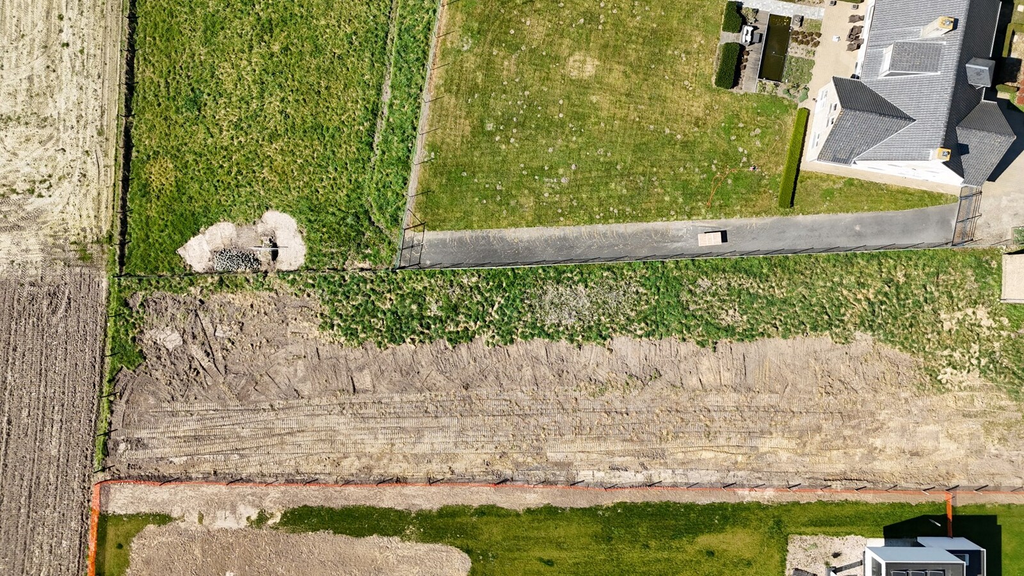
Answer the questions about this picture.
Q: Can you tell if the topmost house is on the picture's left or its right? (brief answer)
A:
right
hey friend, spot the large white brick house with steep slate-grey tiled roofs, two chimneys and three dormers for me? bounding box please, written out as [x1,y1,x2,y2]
[805,0,1015,186]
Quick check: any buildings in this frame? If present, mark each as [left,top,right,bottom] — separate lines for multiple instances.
[805,0,1015,186]
[863,537,984,576]
[1001,252,1024,304]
